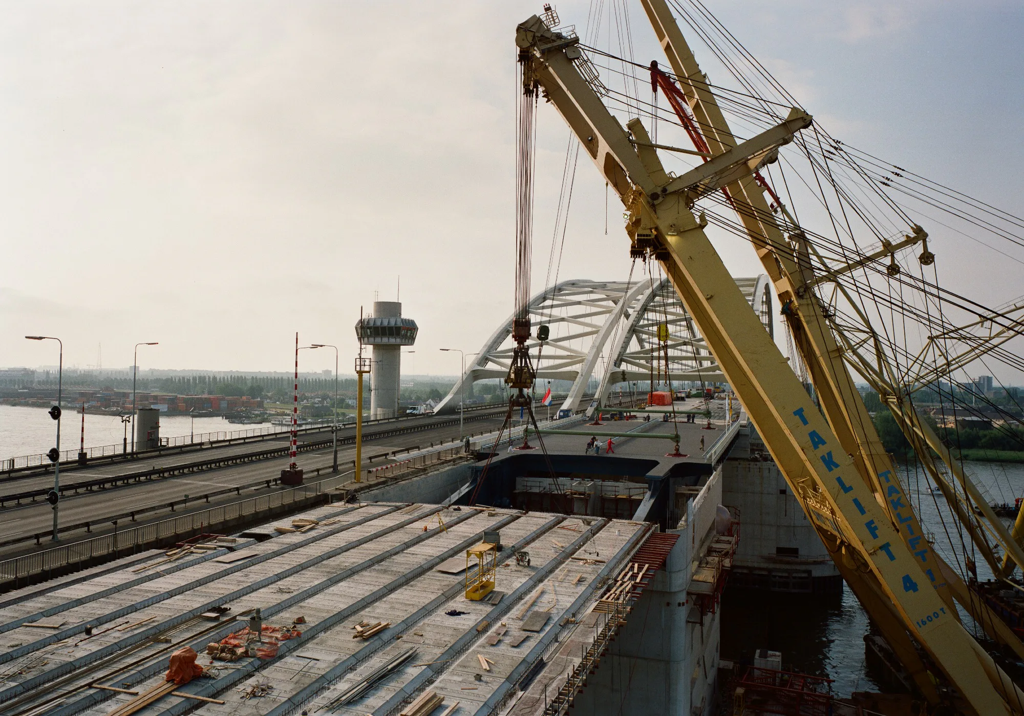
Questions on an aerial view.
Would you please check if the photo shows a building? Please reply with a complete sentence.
Yes, the frame does contain a building.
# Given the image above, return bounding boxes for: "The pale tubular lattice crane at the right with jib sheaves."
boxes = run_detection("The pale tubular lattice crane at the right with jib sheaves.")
[780,206,1024,579]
